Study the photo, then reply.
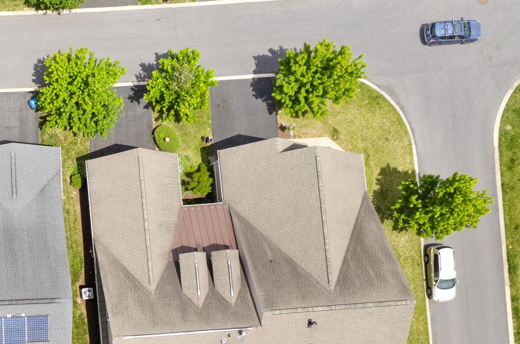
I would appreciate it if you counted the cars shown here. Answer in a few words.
two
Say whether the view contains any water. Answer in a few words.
No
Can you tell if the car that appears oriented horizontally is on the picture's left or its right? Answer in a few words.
right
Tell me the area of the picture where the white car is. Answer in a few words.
bottom right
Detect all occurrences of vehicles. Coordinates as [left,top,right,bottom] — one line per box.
[419,17,477,47]
[426,245,458,301]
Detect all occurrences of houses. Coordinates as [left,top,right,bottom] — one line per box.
[0,143,72,344]
[81,138,415,344]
